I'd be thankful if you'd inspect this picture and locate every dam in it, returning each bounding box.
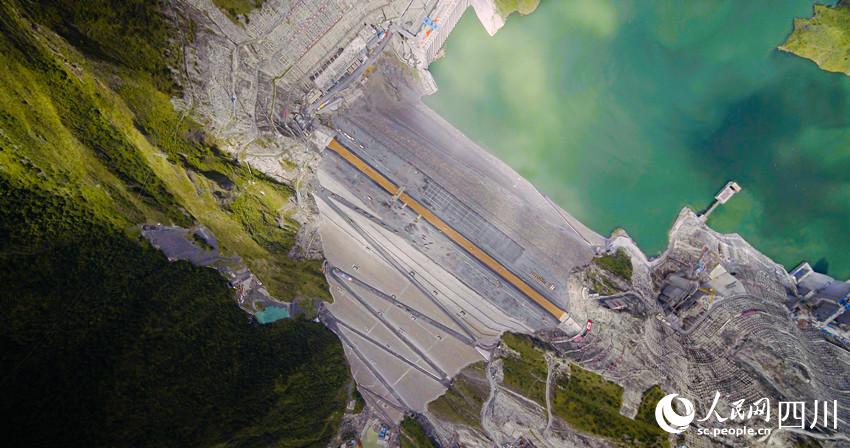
[314,58,608,433]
